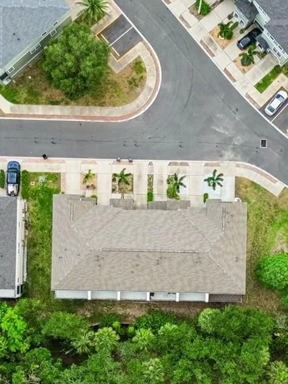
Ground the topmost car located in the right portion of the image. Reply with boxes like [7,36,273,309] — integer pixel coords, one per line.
[234,24,260,50]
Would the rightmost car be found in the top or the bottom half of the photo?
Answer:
top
